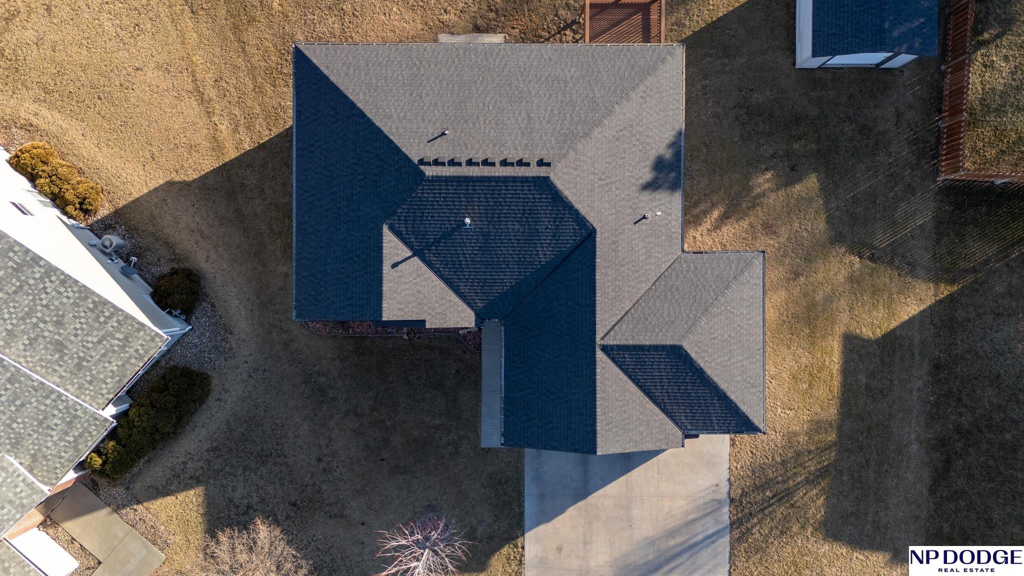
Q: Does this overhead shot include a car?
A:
No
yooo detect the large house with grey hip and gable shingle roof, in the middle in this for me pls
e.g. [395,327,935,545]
[292,44,765,456]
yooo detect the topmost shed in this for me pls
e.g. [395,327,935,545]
[793,0,938,70]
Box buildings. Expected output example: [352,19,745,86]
[0,148,189,576]
[793,0,938,70]
[292,44,765,456]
